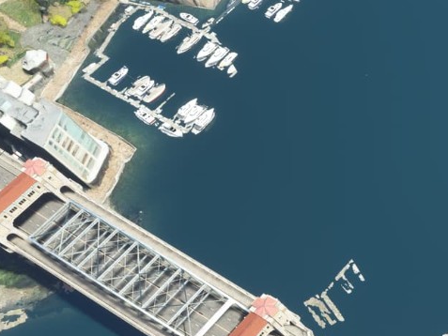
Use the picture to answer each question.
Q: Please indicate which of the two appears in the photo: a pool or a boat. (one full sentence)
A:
Looking from above, you can make out a boat.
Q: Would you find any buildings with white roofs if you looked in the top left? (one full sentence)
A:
Yes, in the top left there is a building with a white roof.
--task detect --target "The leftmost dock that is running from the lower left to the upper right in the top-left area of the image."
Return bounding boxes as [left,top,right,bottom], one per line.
[81,5,140,76]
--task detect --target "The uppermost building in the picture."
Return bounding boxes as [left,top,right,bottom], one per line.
[22,49,55,78]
